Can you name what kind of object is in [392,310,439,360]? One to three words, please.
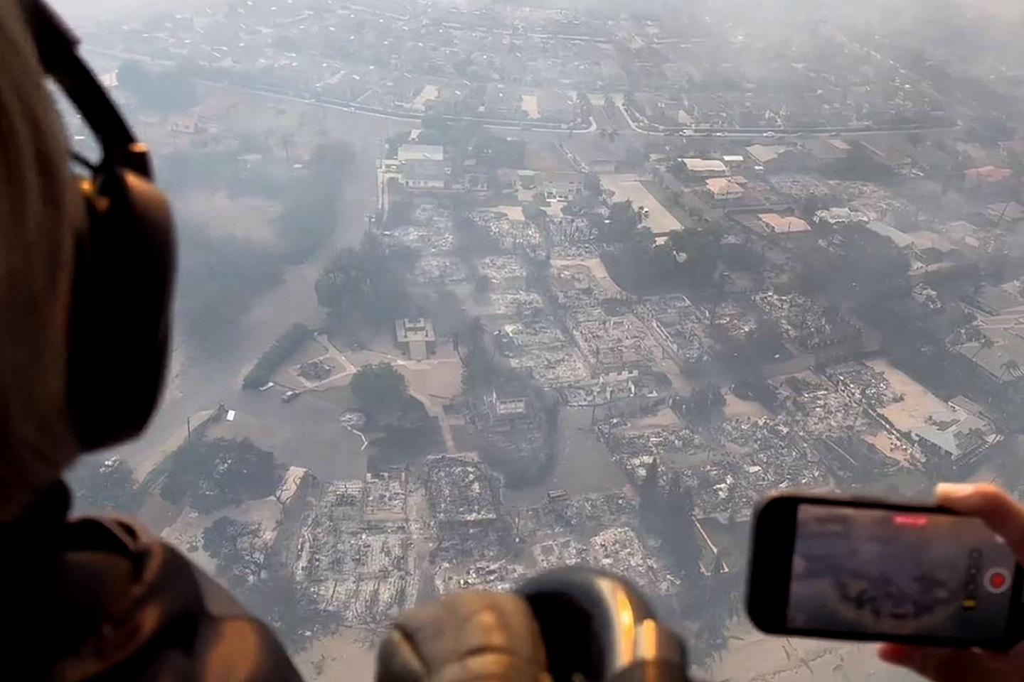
building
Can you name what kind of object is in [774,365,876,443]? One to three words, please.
house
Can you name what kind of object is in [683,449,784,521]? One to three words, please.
house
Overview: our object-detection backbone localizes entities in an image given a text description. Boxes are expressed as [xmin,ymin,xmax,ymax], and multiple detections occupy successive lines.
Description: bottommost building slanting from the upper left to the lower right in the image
[590,524,676,595]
